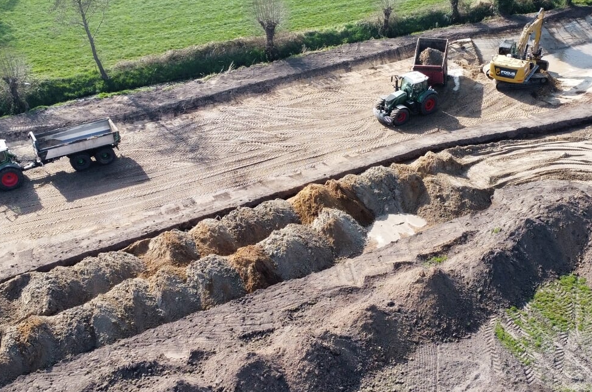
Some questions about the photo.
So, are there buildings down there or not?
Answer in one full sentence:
No, there isn't any building down there.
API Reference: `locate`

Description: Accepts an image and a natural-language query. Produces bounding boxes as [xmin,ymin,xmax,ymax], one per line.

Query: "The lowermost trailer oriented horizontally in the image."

[19,116,123,177]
